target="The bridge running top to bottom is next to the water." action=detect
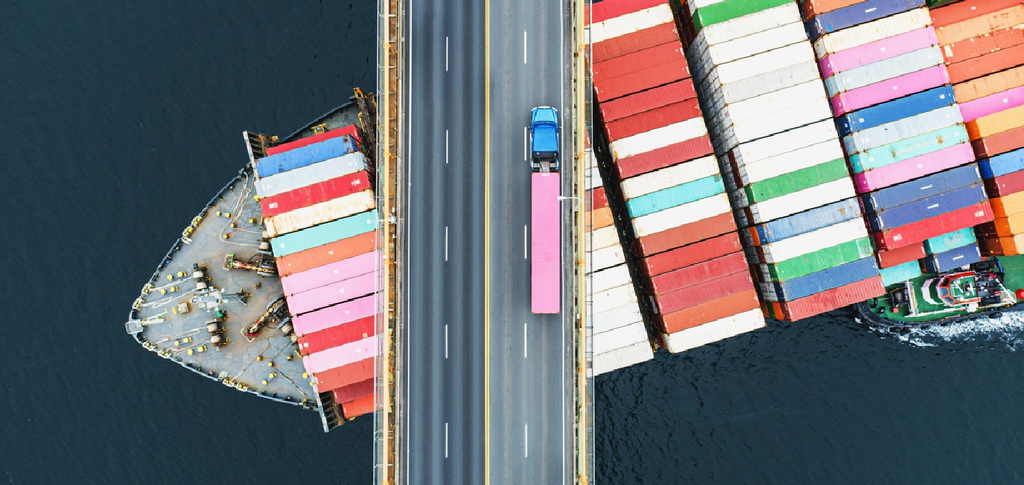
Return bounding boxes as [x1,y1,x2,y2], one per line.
[374,0,594,485]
